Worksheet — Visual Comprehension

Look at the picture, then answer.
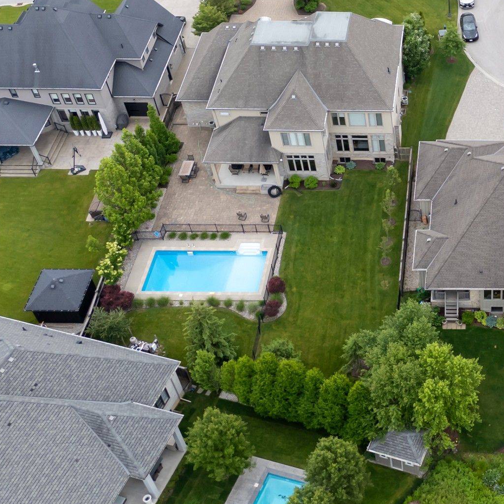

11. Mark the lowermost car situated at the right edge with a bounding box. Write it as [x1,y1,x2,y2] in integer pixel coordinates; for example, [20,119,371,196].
[460,11,479,38]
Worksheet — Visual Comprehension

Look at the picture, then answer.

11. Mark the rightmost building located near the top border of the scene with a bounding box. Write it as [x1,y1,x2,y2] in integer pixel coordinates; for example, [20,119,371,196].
[175,12,403,189]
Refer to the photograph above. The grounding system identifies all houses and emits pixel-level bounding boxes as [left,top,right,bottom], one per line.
[412,139,504,315]
[0,316,186,504]
[175,12,403,189]
[0,0,188,134]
